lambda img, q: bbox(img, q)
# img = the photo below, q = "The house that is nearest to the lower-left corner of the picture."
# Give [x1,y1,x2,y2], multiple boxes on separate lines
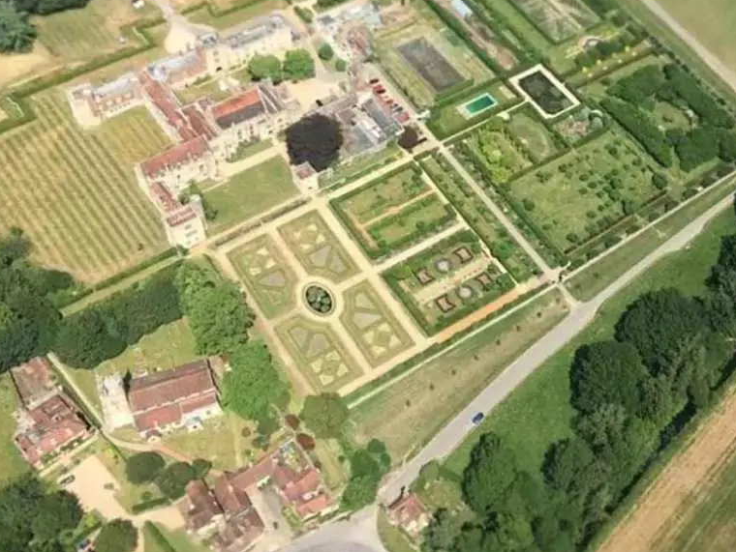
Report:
[14,381,104,471]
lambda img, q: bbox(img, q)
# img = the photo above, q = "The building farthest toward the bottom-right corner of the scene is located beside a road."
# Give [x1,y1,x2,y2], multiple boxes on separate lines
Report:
[380,482,421,533]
